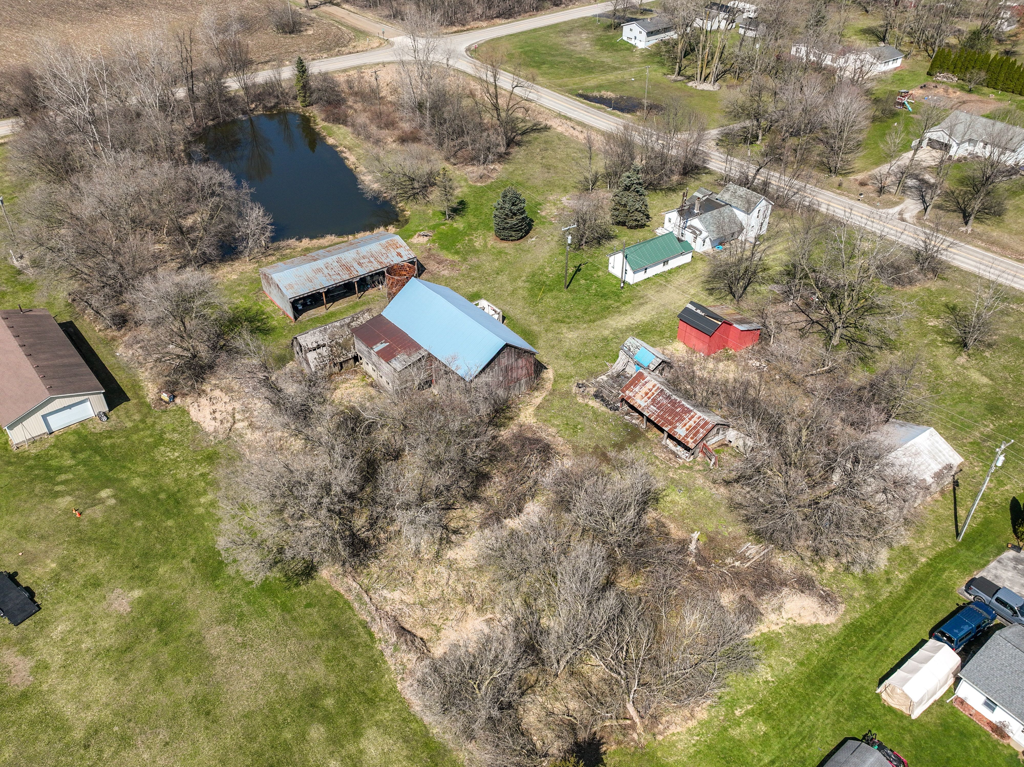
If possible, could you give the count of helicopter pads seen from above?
zero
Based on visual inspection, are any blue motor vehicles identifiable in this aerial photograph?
Yes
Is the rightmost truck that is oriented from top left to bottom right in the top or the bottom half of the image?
bottom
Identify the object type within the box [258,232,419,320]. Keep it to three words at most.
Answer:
shed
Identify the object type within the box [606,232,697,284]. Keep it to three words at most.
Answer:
building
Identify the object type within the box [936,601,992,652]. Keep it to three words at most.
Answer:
truck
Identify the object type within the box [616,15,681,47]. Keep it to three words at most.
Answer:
house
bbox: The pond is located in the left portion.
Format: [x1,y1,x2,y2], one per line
[192,113,402,258]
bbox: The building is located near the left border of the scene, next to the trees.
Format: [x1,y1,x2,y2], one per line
[0,308,108,445]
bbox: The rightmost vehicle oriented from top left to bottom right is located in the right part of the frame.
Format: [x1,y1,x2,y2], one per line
[966,579,1024,626]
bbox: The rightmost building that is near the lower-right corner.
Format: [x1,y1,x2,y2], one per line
[945,621,1024,747]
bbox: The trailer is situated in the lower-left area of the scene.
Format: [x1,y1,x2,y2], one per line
[0,586,40,627]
